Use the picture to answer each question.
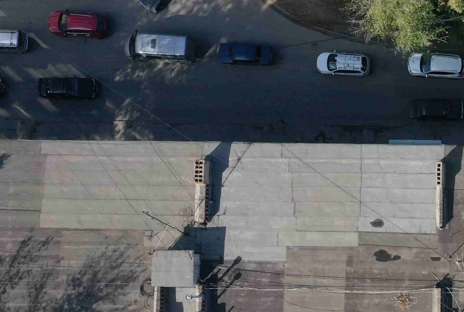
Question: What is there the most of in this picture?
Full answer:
Most of the picture is covered by buildings.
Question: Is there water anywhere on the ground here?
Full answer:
No, there is no water in the image.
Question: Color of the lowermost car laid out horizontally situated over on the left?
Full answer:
The color of the lowermost car laid out horizontally situated over on the left is black.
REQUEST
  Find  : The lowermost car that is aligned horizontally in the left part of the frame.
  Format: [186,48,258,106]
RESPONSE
[38,74,100,101]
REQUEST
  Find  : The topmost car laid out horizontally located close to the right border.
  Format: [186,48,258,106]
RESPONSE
[408,52,464,80]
